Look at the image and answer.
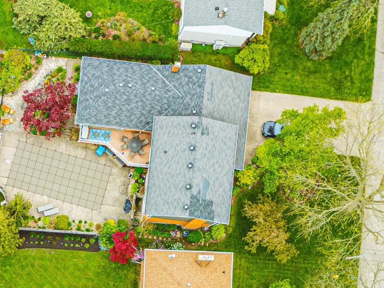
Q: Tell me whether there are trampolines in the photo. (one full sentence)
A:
No, there appears to be no trampoline in this shot.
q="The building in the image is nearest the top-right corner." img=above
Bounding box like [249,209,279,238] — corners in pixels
[178,0,267,45]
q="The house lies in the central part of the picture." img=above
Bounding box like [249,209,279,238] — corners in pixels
[75,51,253,235]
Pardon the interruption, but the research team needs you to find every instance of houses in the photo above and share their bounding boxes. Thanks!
[138,249,234,288]
[178,0,267,45]
[75,51,253,235]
